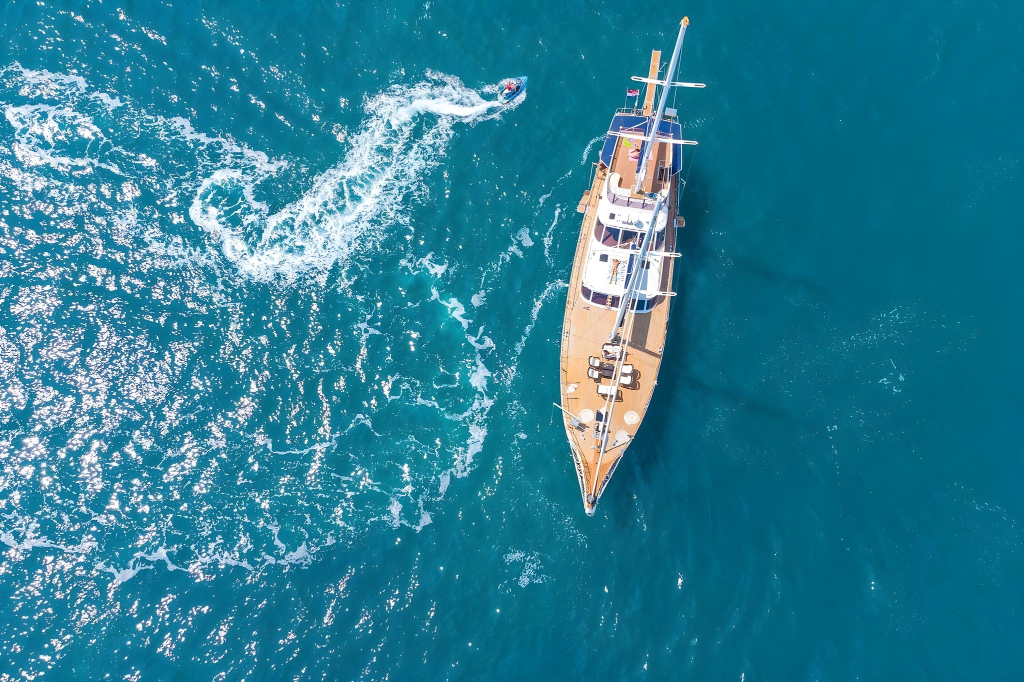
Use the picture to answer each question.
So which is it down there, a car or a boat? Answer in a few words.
boat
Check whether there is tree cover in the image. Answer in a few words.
No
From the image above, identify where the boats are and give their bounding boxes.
[498,76,526,105]
[552,16,706,520]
